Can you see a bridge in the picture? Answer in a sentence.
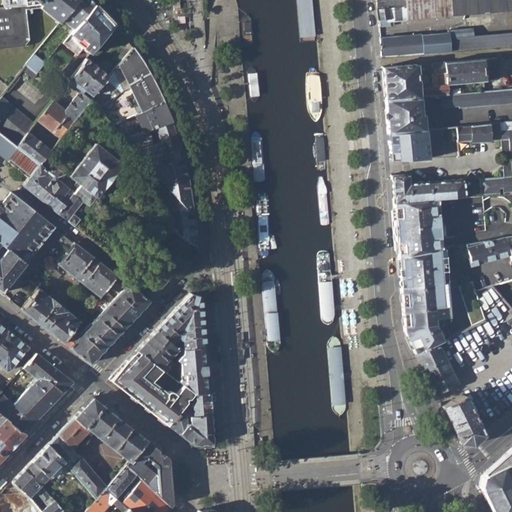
Yes, there's a bridge down there.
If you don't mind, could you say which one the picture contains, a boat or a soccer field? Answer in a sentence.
The one in the frame is a boat.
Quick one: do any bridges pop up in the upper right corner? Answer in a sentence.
No, there's no bridge to be seen in the upper right corner.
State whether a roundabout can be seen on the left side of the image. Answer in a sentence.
No, the scene shows no roundabout on the left side of the image.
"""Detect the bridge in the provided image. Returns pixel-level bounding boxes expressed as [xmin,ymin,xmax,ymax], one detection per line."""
[268,453,362,493]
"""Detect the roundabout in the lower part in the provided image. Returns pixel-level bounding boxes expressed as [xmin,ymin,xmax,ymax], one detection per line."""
[400,447,440,488]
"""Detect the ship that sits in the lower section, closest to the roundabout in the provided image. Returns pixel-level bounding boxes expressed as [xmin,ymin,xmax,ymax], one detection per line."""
[324,335,346,420]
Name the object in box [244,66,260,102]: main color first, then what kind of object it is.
white boat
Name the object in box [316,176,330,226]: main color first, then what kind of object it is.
white boat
